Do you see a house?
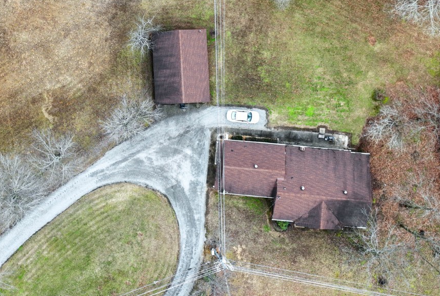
Yes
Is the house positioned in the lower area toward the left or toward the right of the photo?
right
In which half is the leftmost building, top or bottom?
top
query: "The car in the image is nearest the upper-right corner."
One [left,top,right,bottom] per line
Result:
[228,109,259,124]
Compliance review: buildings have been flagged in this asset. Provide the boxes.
[152,30,210,105]
[213,140,372,230]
